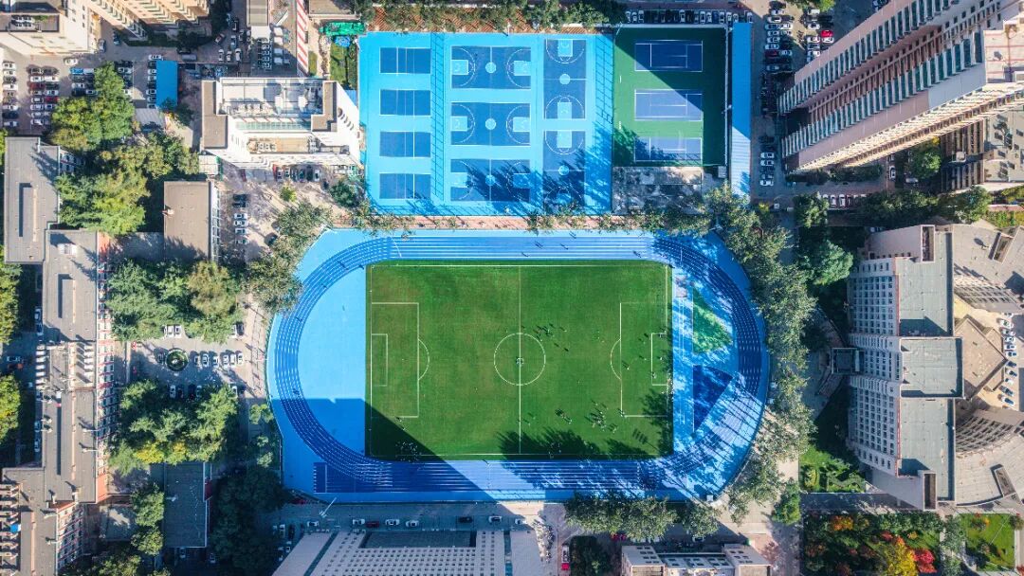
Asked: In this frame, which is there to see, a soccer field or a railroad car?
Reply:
soccer field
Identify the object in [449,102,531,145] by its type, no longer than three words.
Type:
basketball court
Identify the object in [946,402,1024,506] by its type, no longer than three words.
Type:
building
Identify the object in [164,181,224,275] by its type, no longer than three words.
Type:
building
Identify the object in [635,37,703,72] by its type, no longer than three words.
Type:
tennis court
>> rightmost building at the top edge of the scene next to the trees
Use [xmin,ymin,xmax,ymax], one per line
[776,0,1024,184]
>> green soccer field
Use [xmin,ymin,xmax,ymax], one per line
[366,260,673,461]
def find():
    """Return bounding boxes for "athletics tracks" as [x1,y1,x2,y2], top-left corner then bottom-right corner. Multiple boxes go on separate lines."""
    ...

[275,235,761,493]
